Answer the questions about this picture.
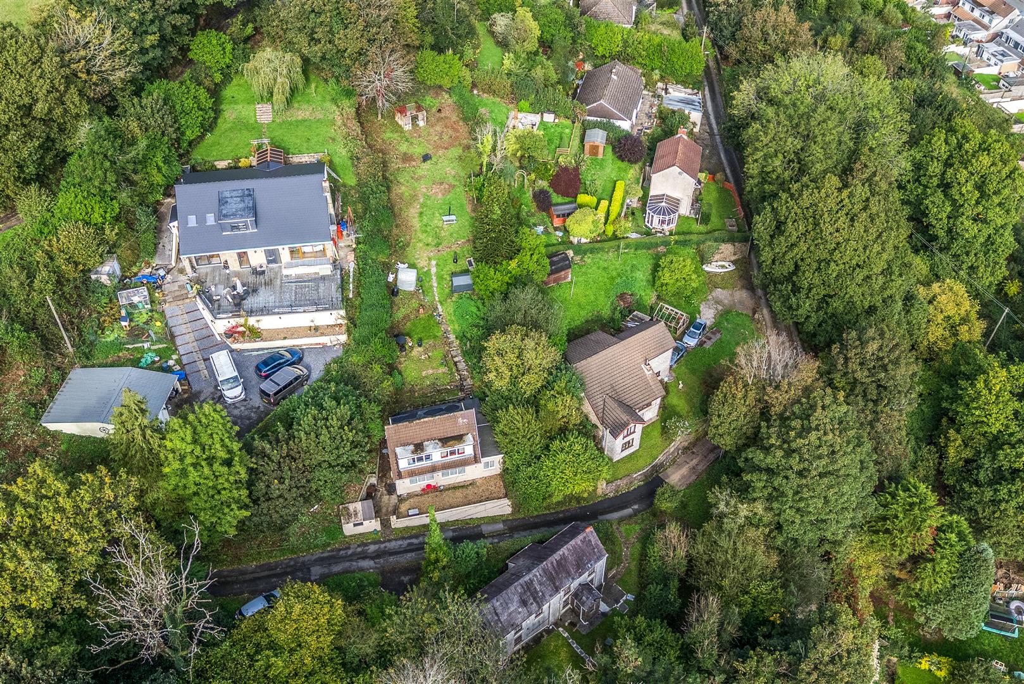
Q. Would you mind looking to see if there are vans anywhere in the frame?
Yes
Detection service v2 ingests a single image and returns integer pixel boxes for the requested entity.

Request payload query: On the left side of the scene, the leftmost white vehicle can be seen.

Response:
[208,350,242,398]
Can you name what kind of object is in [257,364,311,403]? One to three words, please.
van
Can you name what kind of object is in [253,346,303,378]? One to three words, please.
car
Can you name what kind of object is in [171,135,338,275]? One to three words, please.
house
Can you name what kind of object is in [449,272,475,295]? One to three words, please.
shed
